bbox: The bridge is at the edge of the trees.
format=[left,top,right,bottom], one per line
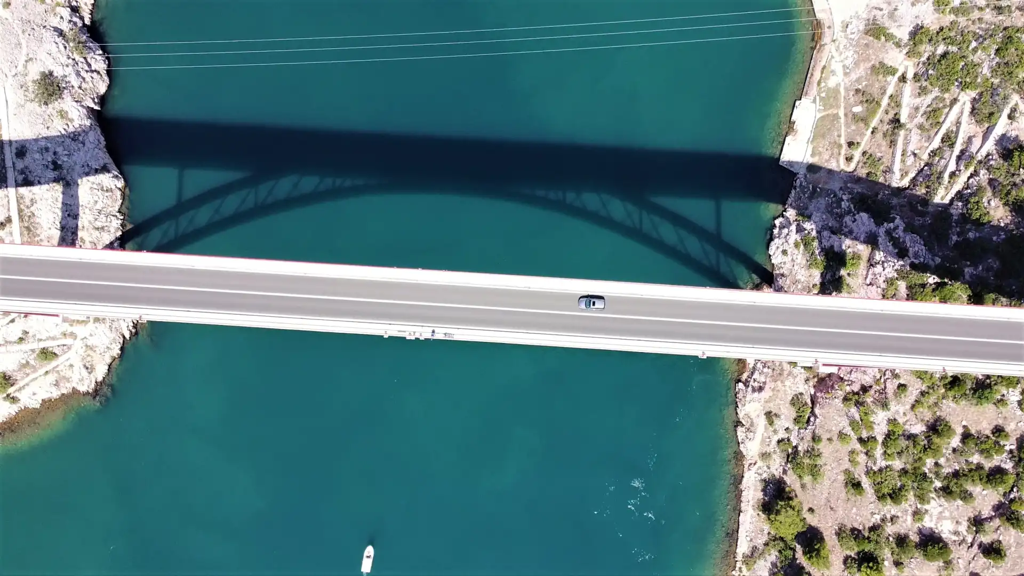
[0,242,1024,379]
